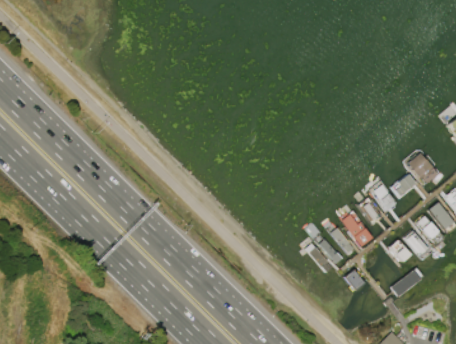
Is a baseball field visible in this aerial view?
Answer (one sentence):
No, no baseball field is visible in the view.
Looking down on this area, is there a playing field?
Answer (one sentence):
No, the picture doesn't show any playing field.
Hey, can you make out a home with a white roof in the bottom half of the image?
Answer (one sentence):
Yes, a home with a white roof is visible in the bottom half of the image.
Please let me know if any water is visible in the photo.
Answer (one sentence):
Yes, some water is visible.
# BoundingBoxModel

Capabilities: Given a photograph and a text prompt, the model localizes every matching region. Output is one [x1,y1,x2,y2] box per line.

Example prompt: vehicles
[74,164,82,172]
[16,99,25,108]
[184,310,195,320]
[206,270,214,278]
[110,176,120,186]
[60,178,70,188]
[422,330,428,338]
[36,104,44,113]
[46,128,55,136]
[0,159,8,169]
[92,161,100,170]
[141,198,150,207]
[436,332,442,342]
[224,302,233,310]
[191,248,200,256]
[46,186,56,196]
[247,312,256,320]
[91,171,100,180]
[63,133,72,142]
[258,333,266,342]
[414,326,419,334]
[429,331,434,340]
